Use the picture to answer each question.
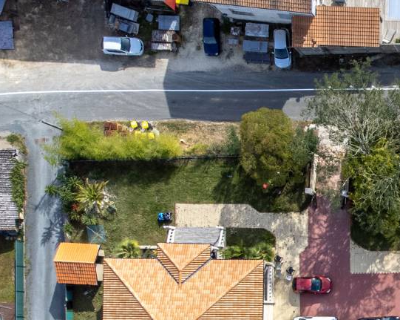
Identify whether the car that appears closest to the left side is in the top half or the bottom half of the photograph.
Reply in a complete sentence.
It is in the top half that the car that appears closest to the left side appears.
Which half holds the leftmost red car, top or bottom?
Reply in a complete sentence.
The leftmost red car sits in the bottom half of the picture.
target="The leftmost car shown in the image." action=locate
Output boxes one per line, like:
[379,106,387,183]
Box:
[102,34,146,57]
